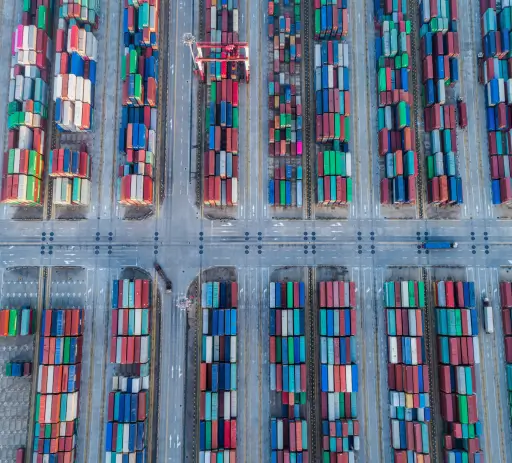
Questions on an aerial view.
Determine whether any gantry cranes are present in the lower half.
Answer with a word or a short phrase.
No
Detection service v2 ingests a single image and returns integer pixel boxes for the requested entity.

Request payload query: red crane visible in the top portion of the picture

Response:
[197,40,250,82]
